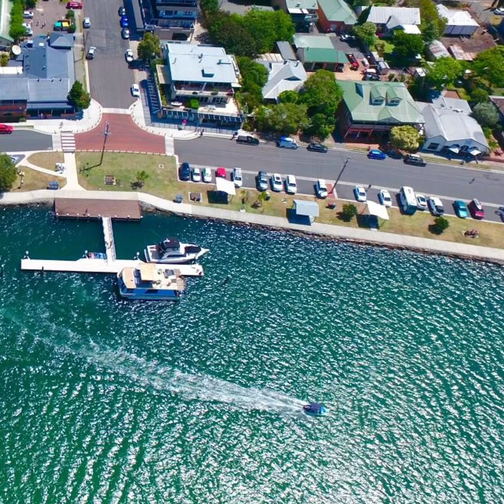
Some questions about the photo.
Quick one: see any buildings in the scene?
Yes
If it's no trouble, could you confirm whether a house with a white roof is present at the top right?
Yes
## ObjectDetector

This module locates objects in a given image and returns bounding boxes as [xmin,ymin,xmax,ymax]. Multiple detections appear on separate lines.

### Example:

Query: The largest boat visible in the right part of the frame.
[303,402,328,414]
